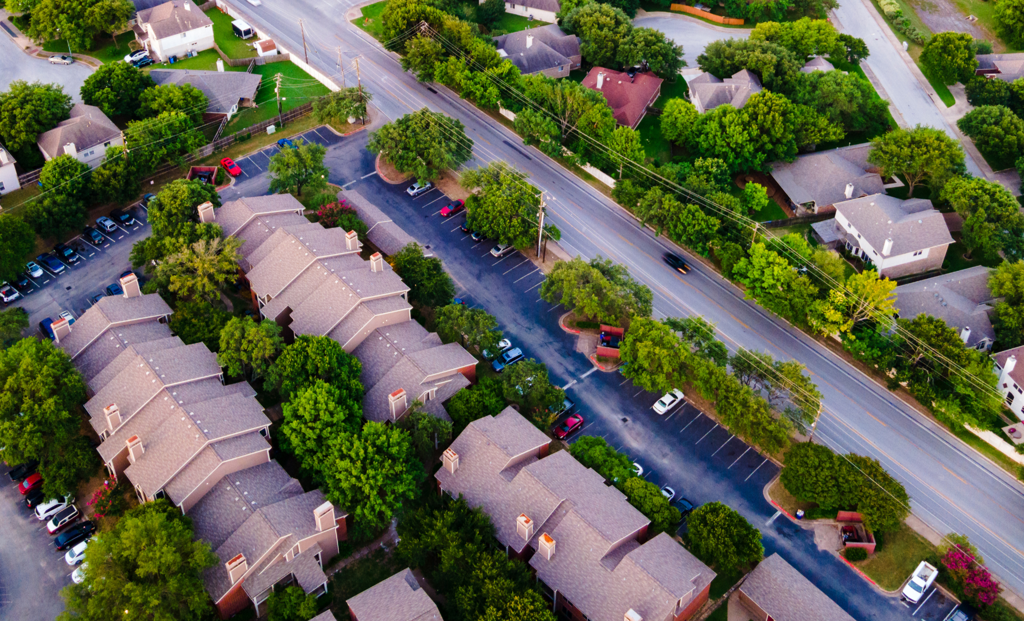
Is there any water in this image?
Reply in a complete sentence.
No, the scene doesn't show any water.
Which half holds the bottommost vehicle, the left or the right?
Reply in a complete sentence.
The bottommost vehicle sits on the right side.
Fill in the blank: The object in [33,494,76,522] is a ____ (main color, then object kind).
white car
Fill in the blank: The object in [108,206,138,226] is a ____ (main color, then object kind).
black car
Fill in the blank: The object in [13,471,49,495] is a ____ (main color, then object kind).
red car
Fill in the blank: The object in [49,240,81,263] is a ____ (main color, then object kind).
black truck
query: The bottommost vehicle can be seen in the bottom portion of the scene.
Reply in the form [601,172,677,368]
[946,601,974,621]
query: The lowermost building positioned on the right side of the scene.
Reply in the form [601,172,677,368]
[736,554,856,621]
